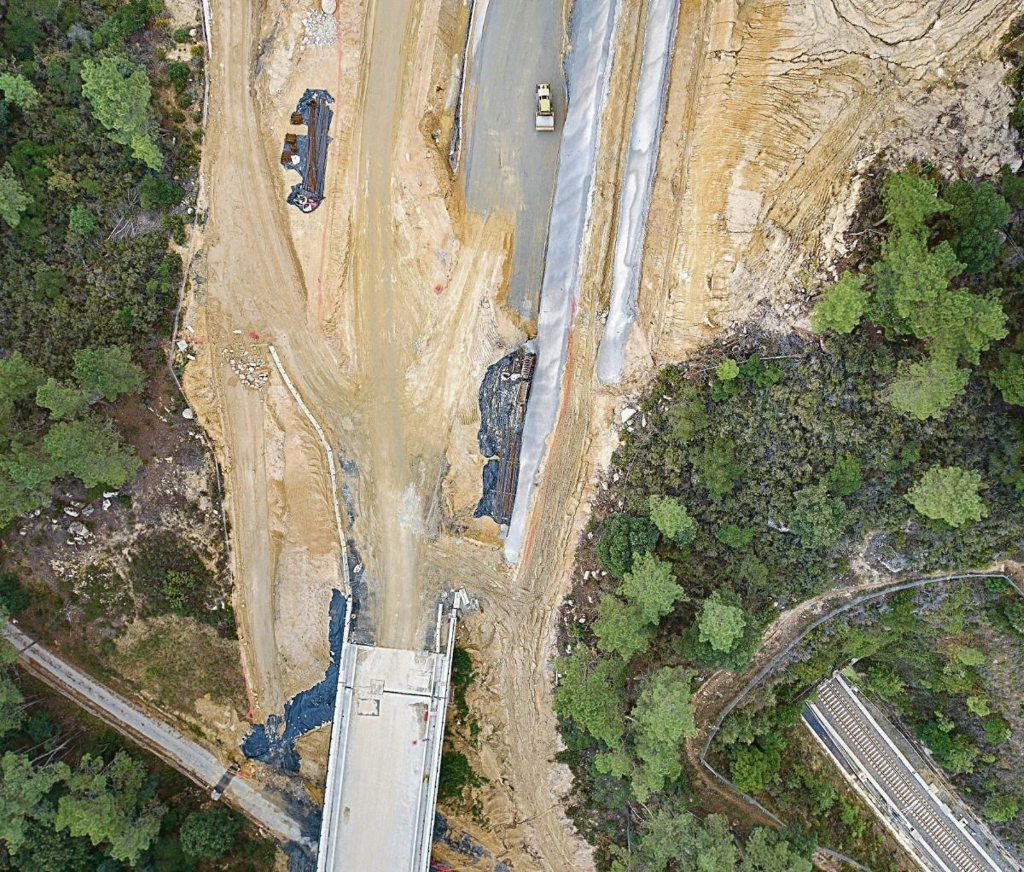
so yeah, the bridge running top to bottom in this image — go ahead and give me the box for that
[318,640,452,872]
